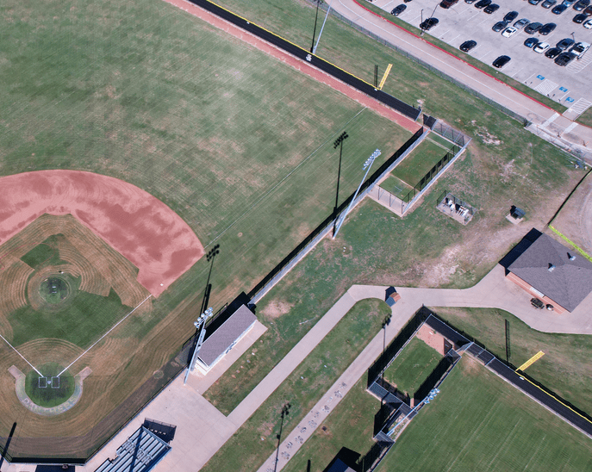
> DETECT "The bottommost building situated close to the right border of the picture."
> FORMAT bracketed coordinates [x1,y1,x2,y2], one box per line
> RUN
[505,234,592,316]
